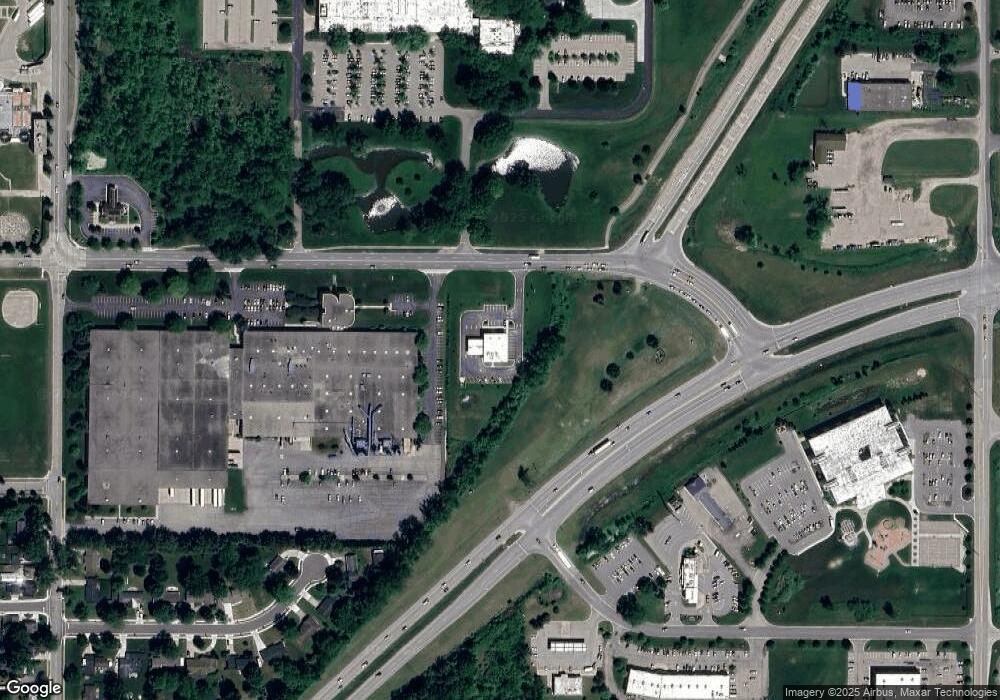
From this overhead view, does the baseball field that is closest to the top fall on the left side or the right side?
left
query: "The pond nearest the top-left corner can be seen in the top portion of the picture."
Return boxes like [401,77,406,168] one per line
[308,145,434,233]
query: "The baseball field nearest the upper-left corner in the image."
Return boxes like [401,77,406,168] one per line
[0,213,29,241]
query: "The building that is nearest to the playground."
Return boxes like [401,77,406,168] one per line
[810,405,914,510]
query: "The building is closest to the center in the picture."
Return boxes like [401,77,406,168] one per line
[469,333,508,362]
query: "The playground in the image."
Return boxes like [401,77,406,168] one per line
[866,518,912,572]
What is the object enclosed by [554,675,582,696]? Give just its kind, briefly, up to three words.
building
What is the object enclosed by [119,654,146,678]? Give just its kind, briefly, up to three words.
house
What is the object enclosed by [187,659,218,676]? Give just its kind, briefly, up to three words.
house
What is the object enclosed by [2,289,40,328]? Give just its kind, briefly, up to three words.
baseball field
